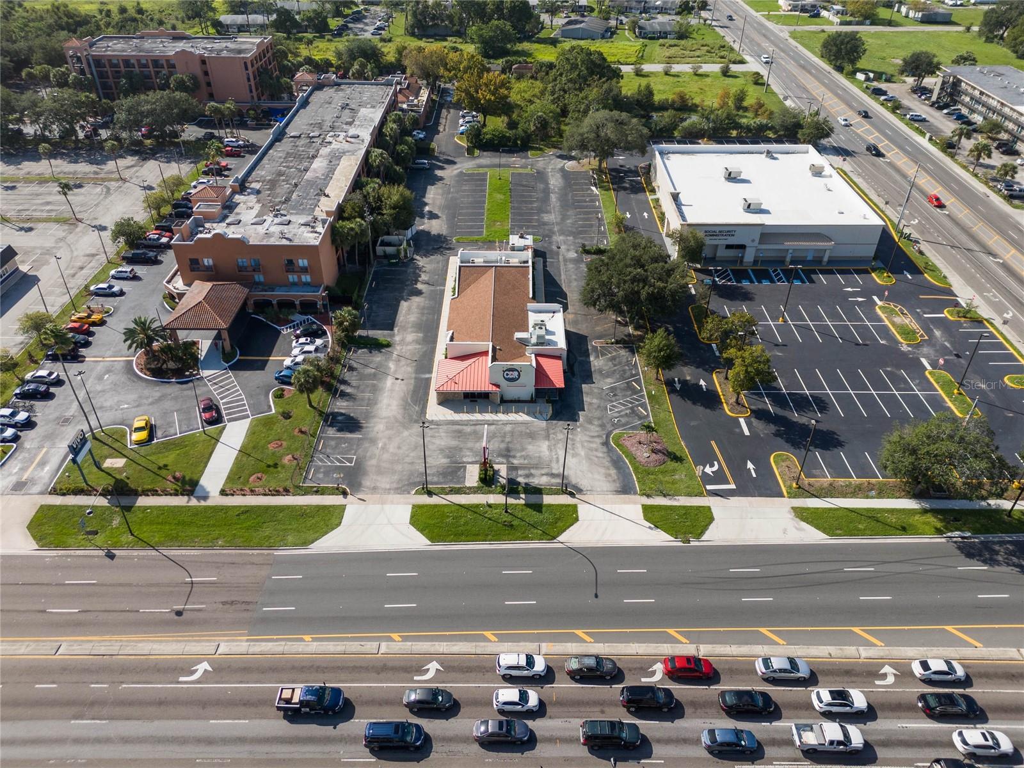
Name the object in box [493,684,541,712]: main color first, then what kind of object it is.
white car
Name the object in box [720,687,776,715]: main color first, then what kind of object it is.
black car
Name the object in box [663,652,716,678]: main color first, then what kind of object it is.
red car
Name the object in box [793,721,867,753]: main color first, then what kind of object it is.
white truck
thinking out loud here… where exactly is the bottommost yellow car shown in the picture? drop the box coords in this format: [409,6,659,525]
[128,414,153,441]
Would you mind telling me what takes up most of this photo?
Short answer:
paved ground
